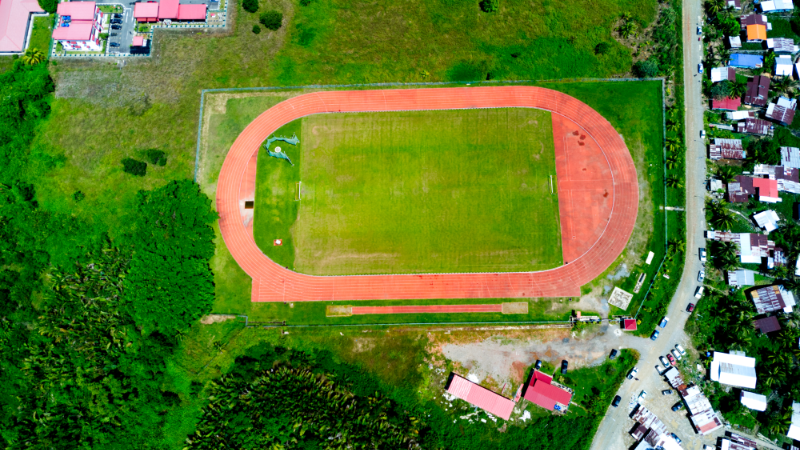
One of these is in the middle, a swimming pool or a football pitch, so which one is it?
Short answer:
football pitch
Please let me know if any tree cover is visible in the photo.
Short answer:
Yes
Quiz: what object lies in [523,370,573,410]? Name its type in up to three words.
house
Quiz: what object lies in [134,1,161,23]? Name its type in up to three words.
building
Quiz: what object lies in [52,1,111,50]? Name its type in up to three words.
building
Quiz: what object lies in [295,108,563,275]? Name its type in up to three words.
soccer field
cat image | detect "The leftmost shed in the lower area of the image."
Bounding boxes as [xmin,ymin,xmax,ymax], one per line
[447,375,515,420]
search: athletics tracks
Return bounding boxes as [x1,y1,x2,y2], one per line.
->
[216,86,639,302]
